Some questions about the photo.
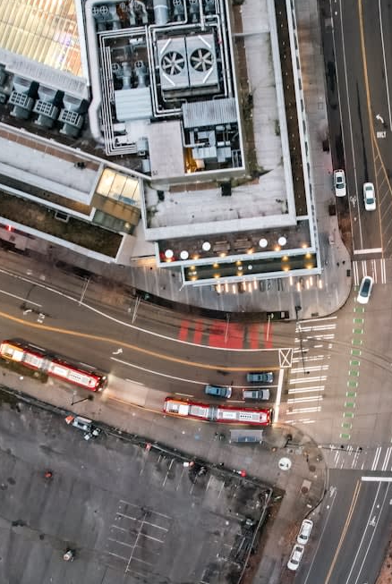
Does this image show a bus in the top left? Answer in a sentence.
No, no bus is visible in the top left.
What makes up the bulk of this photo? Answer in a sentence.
Most of the picture is covered by paved ground.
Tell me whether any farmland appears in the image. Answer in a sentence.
No, the scene doesn't show any farmland.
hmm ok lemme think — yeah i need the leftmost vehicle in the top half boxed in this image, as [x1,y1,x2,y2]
[333,169,347,197]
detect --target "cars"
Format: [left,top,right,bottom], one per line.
[357,274,373,303]
[287,542,304,571]
[333,169,347,197]
[204,385,233,398]
[363,181,375,212]
[298,517,312,545]
[242,388,270,401]
[246,371,275,385]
